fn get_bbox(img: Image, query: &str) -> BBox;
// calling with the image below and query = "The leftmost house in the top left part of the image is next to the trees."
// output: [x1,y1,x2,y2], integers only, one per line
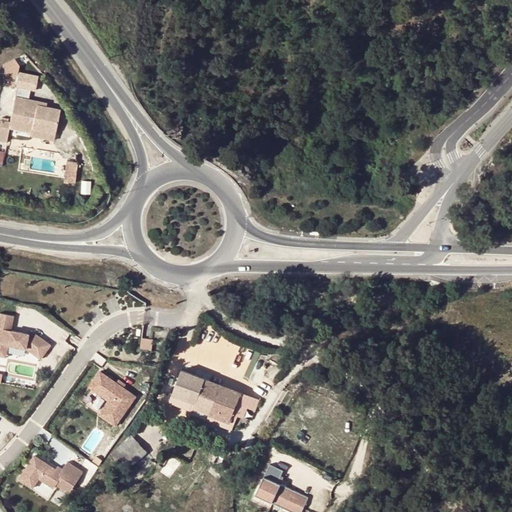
[0,59,60,142]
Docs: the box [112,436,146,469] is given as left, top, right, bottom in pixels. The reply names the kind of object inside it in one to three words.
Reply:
building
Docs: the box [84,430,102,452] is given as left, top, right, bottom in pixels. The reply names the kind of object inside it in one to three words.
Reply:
swimming pool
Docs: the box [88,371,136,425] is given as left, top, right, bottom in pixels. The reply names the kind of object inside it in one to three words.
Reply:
house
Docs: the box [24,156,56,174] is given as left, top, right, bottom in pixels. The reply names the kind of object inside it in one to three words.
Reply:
swimming pool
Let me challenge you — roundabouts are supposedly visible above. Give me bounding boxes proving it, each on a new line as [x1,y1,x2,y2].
[122,160,246,286]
